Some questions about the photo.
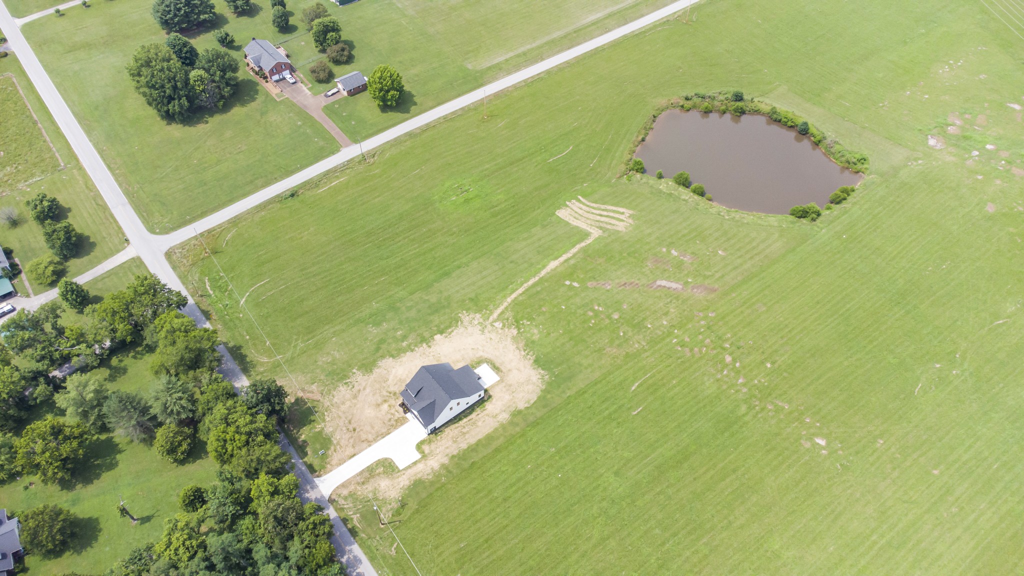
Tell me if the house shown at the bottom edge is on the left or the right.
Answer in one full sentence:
You can find the house shown at the bottom edge on the left side of the picture.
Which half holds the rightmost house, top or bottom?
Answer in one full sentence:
You can find the rightmost house in the bottom half.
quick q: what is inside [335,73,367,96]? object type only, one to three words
building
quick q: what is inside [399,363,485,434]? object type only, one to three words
house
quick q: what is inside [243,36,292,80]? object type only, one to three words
house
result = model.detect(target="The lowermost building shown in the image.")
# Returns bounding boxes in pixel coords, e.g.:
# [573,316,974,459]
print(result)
[0,497,32,572]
